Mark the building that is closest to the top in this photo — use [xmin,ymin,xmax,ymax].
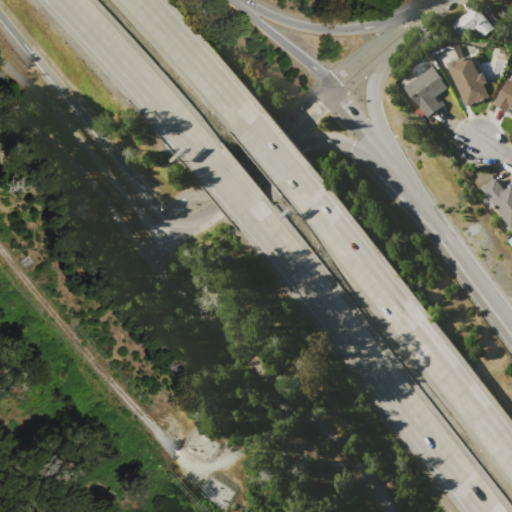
[458,9,492,36]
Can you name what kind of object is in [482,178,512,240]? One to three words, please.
house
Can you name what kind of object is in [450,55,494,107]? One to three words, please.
house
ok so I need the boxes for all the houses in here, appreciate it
[450,55,494,107]
[458,9,492,36]
[404,66,448,118]
[496,79,512,115]
[482,178,512,240]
